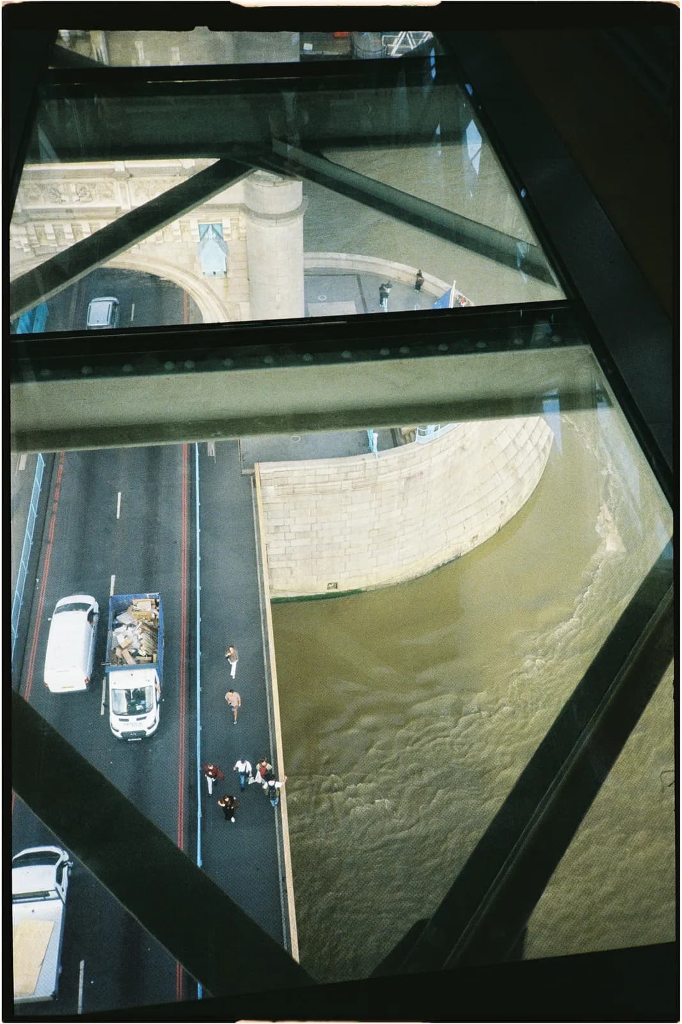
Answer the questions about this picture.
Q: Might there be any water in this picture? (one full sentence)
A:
Yes, there is water in the image.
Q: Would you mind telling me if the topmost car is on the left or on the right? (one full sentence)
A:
The topmost car sits on the left side.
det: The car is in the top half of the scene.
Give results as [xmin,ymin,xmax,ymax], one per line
[90,299,124,325]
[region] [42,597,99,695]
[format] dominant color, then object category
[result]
white van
